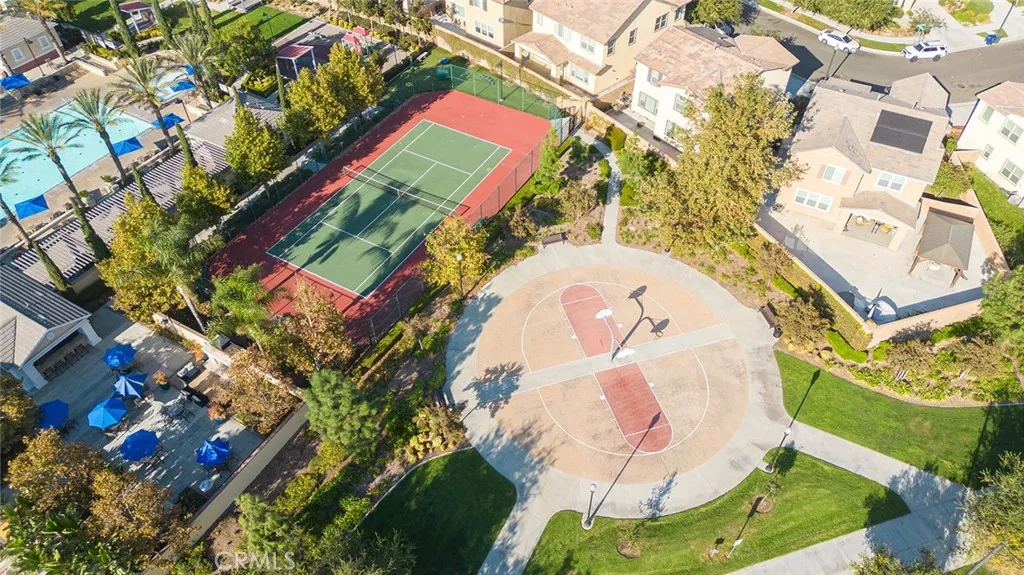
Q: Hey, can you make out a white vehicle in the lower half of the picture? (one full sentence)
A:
No, I can find no white vehicle in the lower half of the picture.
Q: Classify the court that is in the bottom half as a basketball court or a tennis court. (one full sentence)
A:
The court that is in the bottom half is a basketball court.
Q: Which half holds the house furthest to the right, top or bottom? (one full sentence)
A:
The house furthest to the right sits in the top half of the picture.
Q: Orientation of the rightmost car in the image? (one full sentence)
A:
Seen from above, the rightmost car lies from left to right.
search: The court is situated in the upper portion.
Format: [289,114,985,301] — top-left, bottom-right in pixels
[211,88,557,352]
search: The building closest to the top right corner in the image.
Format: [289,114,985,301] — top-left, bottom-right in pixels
[958,74,1024,193]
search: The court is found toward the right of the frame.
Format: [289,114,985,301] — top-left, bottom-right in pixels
[481,267,749,479]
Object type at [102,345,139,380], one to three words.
umbrella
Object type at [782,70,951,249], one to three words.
house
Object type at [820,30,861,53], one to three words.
car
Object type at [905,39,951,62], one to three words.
car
